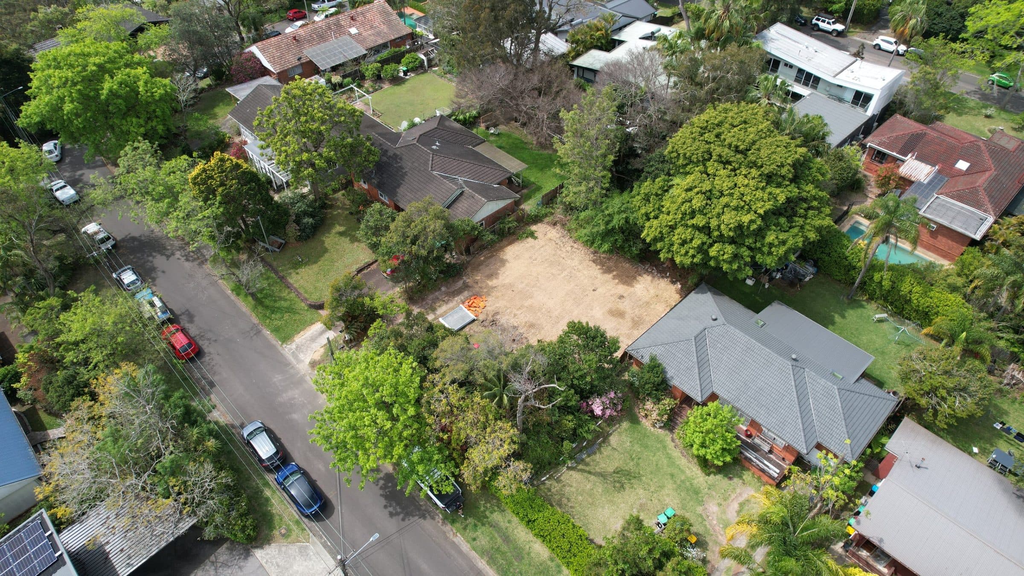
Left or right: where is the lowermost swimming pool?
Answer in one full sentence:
The lowermost swimming pool appears in the right half of the scene.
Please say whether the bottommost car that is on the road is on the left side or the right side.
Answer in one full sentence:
The bottommost car that is on the road sits on the left side.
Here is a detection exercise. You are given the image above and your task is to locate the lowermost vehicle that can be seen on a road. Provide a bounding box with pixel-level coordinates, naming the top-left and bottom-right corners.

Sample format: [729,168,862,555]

[276,464,325,519]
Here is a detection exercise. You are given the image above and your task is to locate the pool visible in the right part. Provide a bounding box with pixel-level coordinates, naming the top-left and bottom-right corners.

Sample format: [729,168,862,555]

[841,215,937,270]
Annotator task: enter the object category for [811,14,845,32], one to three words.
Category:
car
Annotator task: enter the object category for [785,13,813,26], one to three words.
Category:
vehicle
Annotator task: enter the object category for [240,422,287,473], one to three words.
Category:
car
